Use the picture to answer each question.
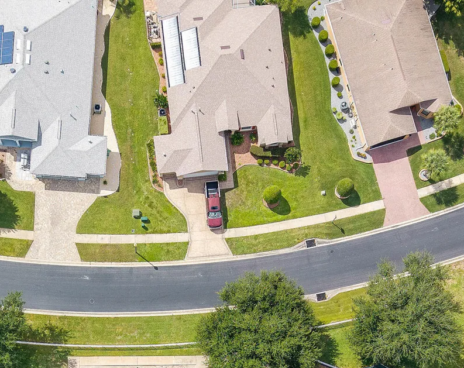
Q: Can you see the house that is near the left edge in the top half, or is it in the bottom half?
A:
top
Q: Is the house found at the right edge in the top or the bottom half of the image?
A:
top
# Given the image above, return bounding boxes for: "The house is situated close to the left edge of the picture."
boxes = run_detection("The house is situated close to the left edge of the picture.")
[0,0,107,181]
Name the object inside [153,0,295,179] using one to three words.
house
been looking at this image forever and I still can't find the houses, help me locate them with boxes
[322,0,451,153]
[153,0,295,179]
[0,0,107,181]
